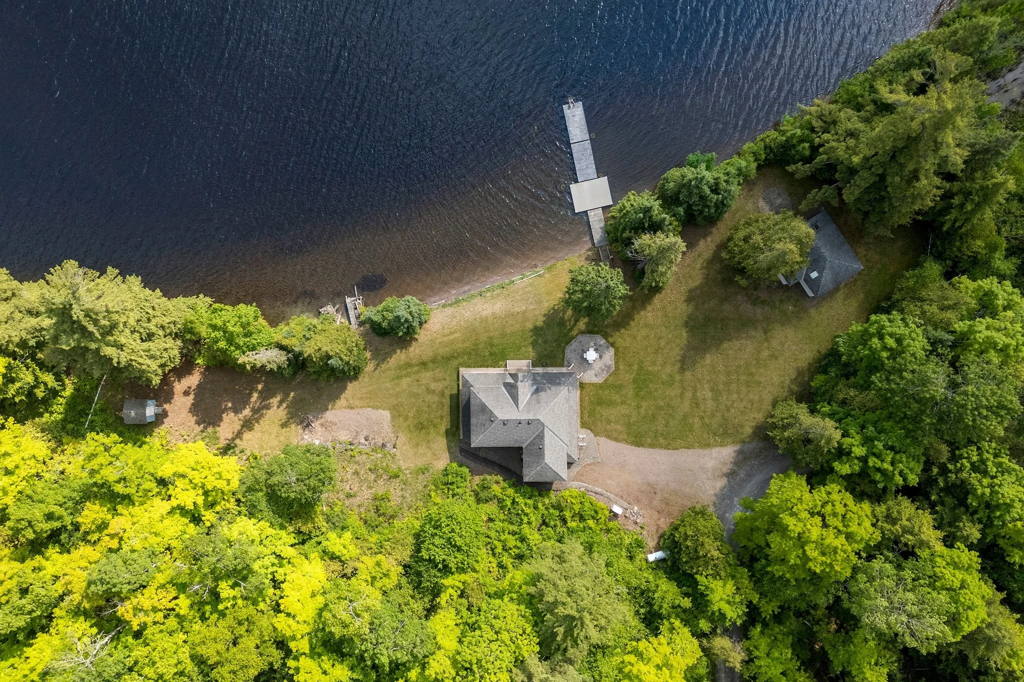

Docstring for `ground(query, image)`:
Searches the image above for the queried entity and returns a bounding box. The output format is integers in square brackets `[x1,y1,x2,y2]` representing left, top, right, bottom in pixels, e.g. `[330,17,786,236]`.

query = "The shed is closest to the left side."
[118,399,164,424]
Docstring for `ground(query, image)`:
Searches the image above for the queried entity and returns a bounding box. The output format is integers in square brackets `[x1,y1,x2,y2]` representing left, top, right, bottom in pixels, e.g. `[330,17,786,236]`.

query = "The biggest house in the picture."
[459,360,588,483]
